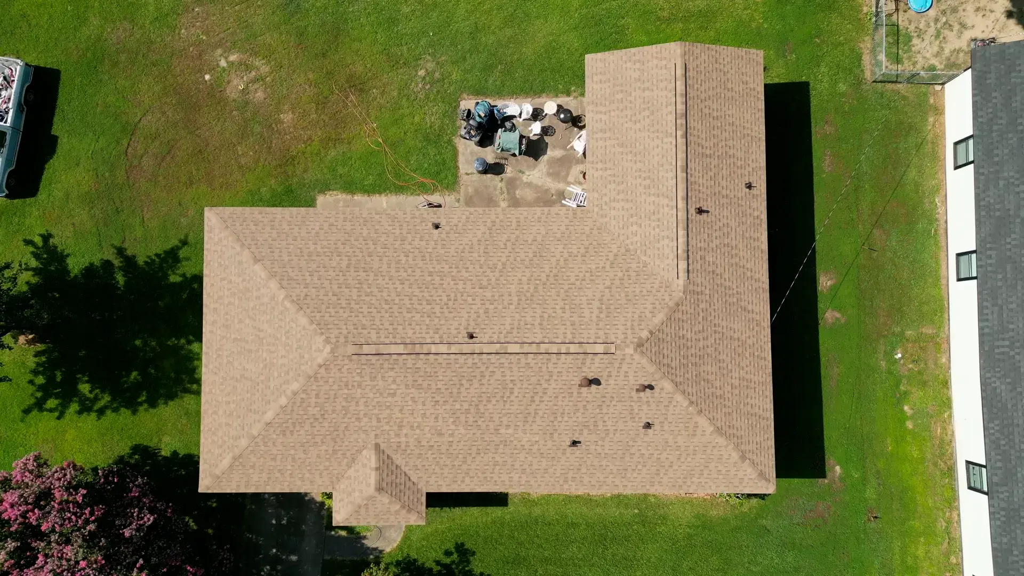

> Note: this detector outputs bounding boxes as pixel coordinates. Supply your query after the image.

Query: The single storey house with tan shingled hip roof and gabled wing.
[197,40,777,527]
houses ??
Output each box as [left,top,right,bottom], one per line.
[943,42,1024,576]
[197,40,777,527]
